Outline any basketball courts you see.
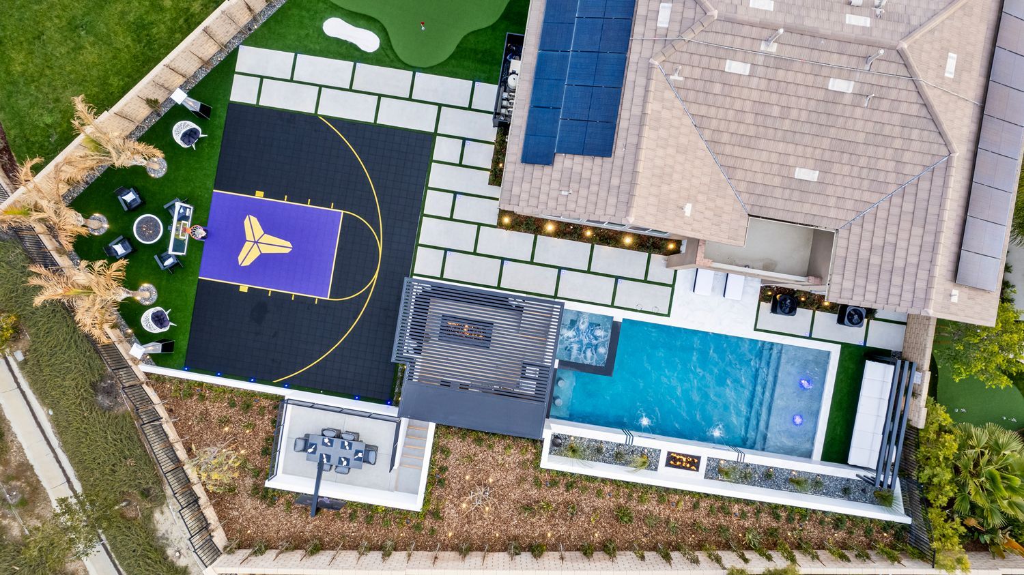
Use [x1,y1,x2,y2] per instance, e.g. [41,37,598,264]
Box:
[187,103,433,401]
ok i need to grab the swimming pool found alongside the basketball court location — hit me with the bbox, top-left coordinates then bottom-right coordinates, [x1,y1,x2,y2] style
[413,276,842,462]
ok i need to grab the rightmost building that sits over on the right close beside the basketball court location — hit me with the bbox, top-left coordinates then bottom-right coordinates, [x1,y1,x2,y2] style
[496,0,1024,329]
